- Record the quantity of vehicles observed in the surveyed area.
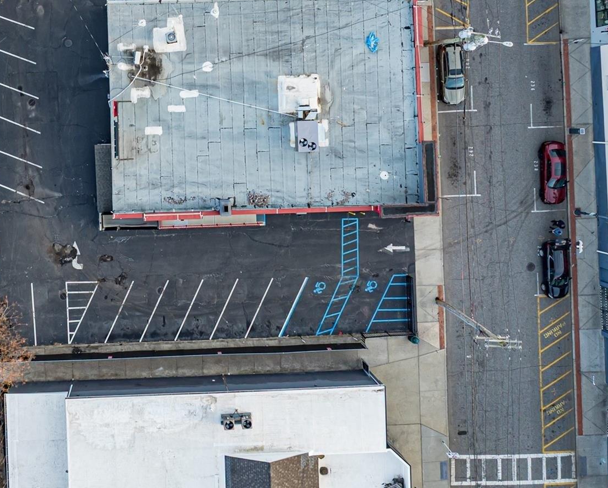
3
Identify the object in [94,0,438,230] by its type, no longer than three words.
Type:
building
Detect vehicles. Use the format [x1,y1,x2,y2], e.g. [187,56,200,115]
[535,141,570,204]
[436,43,468,105]
[537,241,573,305]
